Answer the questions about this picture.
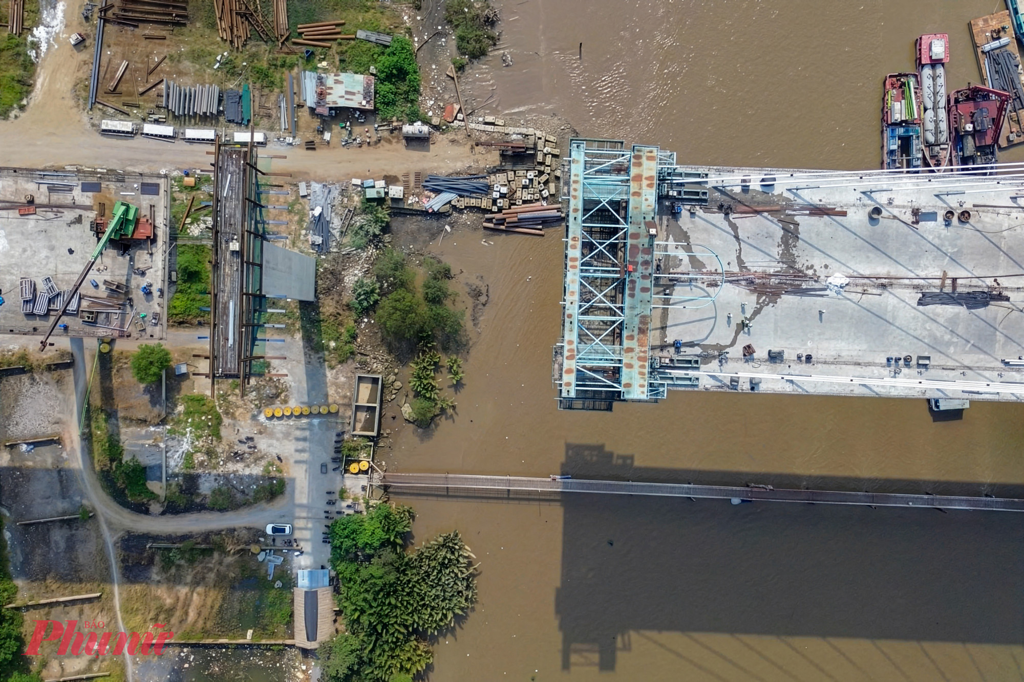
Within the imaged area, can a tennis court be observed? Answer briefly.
No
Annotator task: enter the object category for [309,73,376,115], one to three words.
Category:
shed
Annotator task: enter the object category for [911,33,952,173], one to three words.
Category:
ship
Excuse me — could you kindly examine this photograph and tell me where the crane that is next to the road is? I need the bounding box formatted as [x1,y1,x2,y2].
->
[37,201,154,353]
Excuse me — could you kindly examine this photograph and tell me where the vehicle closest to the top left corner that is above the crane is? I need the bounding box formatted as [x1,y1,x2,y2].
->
[71,32,88,48]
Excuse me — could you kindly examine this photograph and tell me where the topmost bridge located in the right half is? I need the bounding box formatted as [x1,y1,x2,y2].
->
[650,161,1024,402]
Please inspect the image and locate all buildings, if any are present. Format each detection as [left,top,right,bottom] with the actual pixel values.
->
[309,73,376,115]
[293,588,334,647]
